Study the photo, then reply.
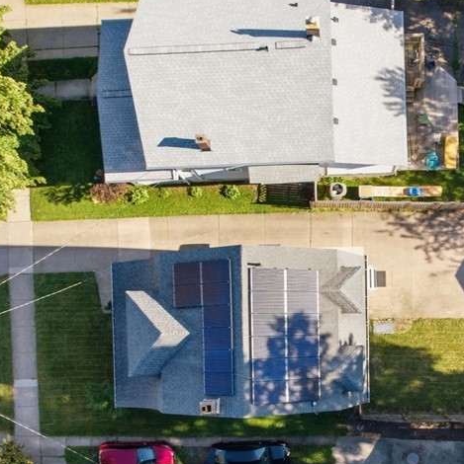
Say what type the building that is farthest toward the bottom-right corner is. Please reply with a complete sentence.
What you see as the building that is farthest toward the bottom-right corner is a home.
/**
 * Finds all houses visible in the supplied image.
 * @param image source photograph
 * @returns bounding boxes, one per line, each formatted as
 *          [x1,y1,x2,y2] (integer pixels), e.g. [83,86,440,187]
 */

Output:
[97,0,405,194]
[110,246,385,417]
